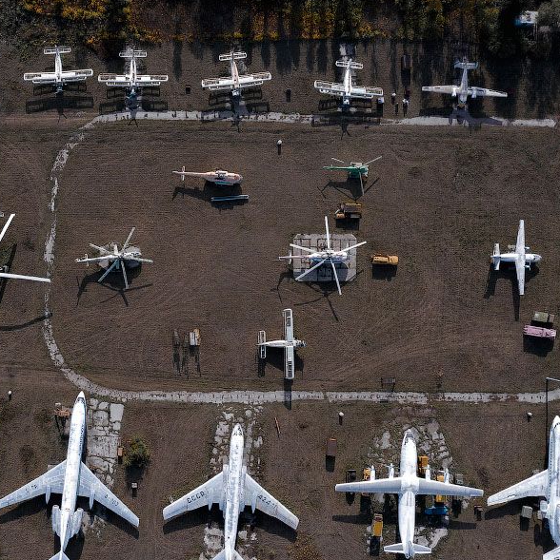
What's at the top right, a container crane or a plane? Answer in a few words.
plane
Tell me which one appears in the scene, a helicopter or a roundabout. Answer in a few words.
helicopter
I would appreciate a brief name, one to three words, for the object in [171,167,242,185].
helicopter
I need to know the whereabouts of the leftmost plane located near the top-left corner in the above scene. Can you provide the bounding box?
[22,47,92,91]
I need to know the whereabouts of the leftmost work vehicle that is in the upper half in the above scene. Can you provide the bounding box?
[336,204,363,220]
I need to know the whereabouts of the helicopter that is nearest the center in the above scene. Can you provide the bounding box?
[277,216,368,295]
